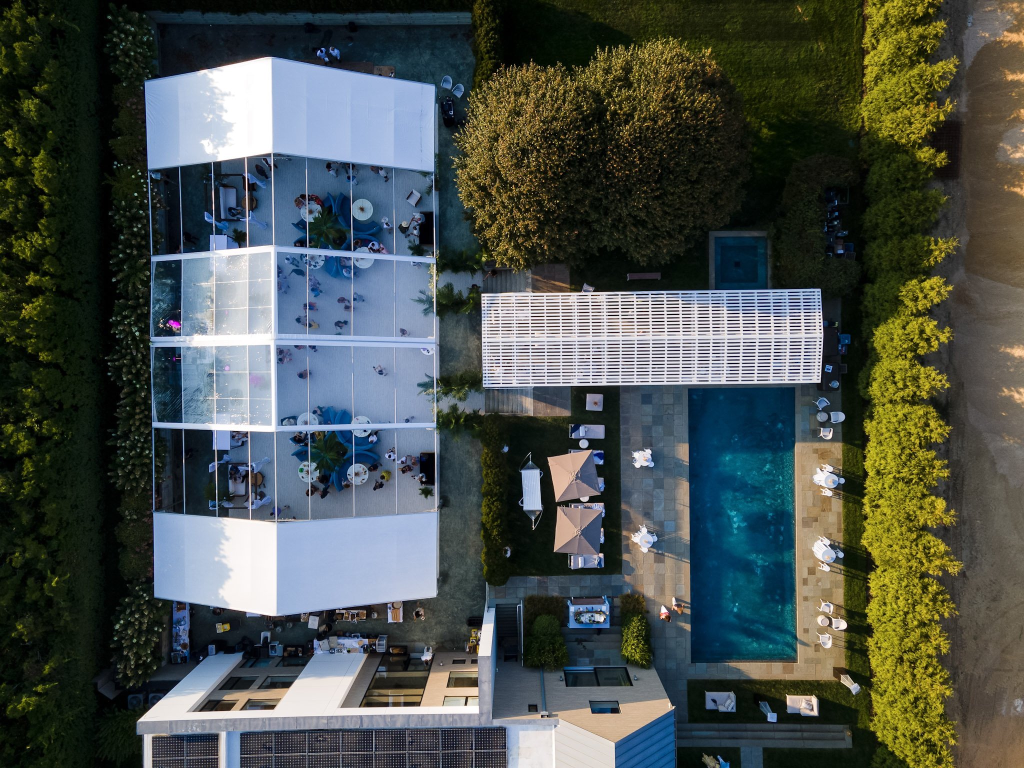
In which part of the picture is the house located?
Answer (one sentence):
You can find the house in the bottom area of the picture.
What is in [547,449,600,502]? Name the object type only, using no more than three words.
umbrella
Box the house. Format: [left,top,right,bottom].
[136,603,682,768]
